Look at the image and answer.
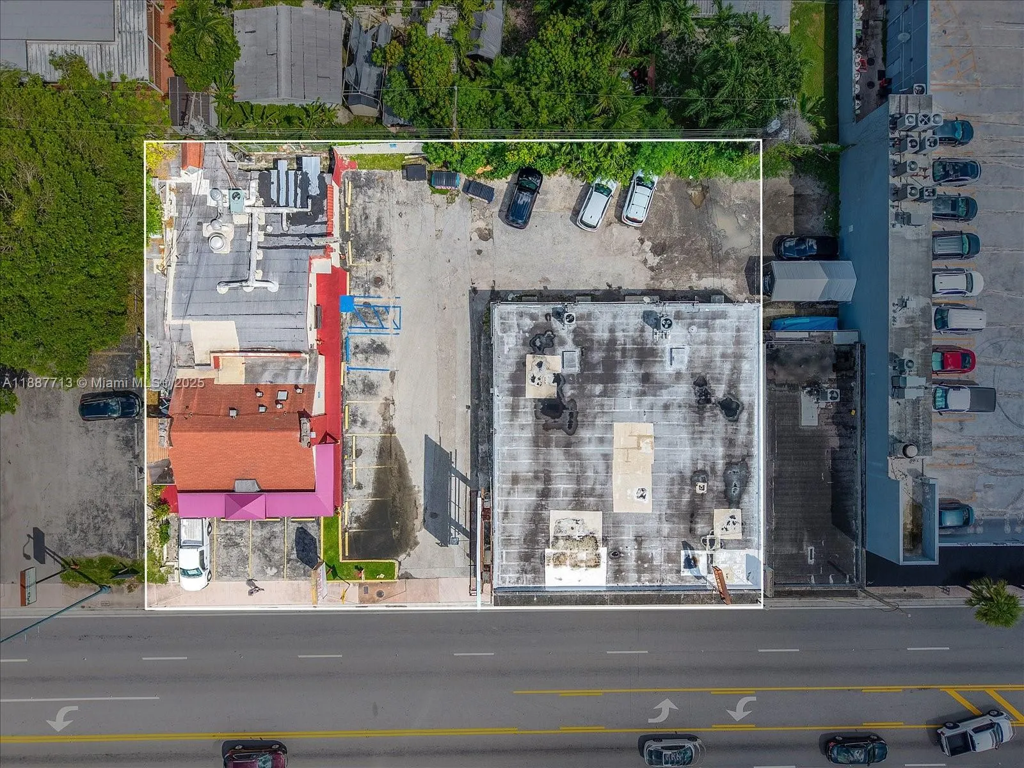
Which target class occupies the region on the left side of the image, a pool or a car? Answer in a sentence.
What appears on the left side of the image is a car.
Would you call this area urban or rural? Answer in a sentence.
It looks urban.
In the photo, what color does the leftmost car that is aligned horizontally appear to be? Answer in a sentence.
The leftmost car that is aligned horizontally looks black in the image.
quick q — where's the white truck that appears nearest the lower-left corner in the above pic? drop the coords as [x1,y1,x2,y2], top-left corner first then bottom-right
[176,517,212,588]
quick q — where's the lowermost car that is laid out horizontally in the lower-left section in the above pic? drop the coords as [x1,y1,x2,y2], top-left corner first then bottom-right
[224,737,290,768]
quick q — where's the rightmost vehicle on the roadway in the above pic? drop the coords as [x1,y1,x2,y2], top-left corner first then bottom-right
[934,709,1012,757]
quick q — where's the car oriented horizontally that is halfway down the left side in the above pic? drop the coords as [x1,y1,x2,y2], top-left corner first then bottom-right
[78,390,147,421]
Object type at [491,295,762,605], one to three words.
building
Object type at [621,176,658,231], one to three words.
car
